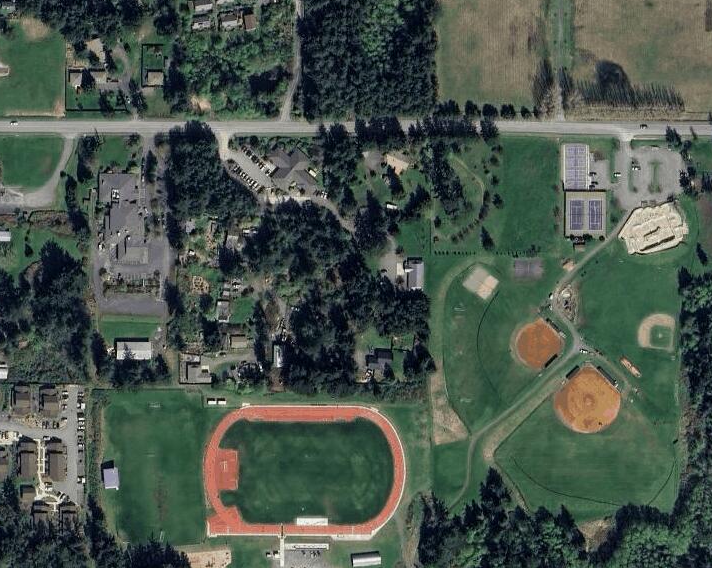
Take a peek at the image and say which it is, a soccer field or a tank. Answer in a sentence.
Looking from above, you can make out a soccer field.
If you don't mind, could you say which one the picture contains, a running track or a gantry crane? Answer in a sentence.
Looking from above, you can make out a running track.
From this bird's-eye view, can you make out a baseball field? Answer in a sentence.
Yes, the photo shows a baseball field.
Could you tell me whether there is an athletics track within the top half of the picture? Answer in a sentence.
No, there is no athletics track within the top half of the picture.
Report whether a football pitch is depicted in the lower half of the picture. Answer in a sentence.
Yes, looking in the lower half of the picture, one can make out a football pitch.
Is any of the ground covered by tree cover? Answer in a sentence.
Yes, some tree cover is visible.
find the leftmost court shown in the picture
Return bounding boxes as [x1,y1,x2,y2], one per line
[515,259,542,278]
